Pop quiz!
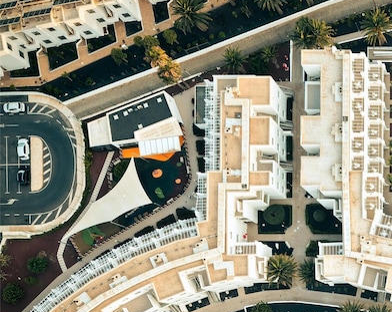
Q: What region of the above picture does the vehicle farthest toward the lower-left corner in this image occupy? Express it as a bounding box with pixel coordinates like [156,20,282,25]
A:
[15,161,28,184]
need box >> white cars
[1,100,23,112]
[15,137,28,159]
